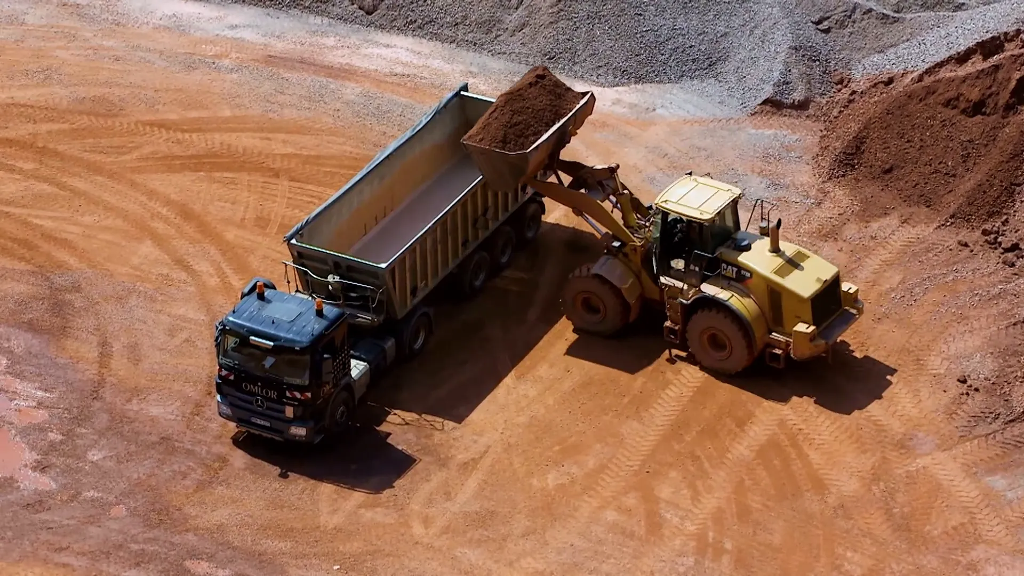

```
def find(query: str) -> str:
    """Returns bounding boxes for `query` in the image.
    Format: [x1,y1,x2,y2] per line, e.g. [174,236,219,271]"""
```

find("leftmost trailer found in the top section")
[276,83,552,331]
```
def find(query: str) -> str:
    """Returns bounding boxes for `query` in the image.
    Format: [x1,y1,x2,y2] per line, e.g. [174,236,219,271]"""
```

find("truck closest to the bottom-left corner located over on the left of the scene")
[214,277,436,449]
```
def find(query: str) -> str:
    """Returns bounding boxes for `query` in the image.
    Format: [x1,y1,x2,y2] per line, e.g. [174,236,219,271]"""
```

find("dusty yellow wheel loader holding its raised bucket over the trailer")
[461,94,869,378]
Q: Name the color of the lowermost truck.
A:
black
